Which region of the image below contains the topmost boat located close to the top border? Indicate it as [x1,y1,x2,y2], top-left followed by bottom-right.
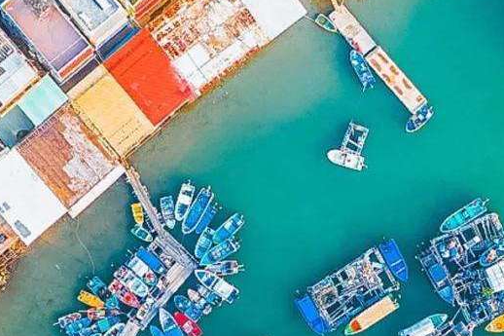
[313,14,343,35]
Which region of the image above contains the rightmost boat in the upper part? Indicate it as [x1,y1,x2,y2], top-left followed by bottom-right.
[404,104,437,130]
